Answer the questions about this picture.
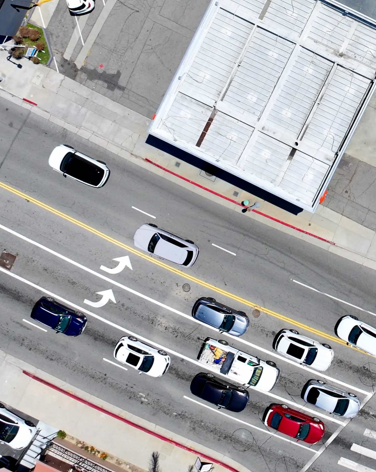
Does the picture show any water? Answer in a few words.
No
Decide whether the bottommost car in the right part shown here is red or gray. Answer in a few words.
red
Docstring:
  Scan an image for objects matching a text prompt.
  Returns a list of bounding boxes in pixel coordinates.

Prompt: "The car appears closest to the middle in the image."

[137,223,197,267]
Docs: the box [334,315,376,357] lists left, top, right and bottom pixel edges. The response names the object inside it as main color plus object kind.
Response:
white car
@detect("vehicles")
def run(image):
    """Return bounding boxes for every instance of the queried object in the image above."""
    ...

[265,402,323,444]
[66,0,96,13]
[137,223,197,267]
[191,296,250,337]
[201,338,275,389]
[273,328,334,371]
[301,377,360,420]
[113,336,171,376]
[27,296,90,338]
[0,406,35,448]
[334,315,376,357]
[50,145,111,188]
[190,370,250,412]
